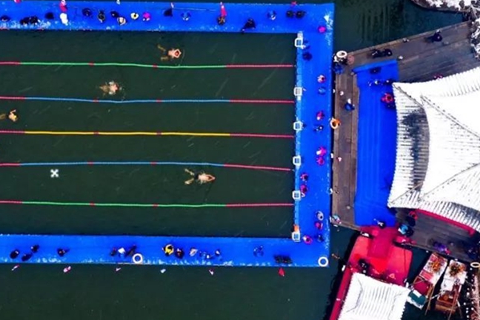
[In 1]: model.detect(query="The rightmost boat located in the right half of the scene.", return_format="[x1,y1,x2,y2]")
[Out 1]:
[434,257,467,320]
